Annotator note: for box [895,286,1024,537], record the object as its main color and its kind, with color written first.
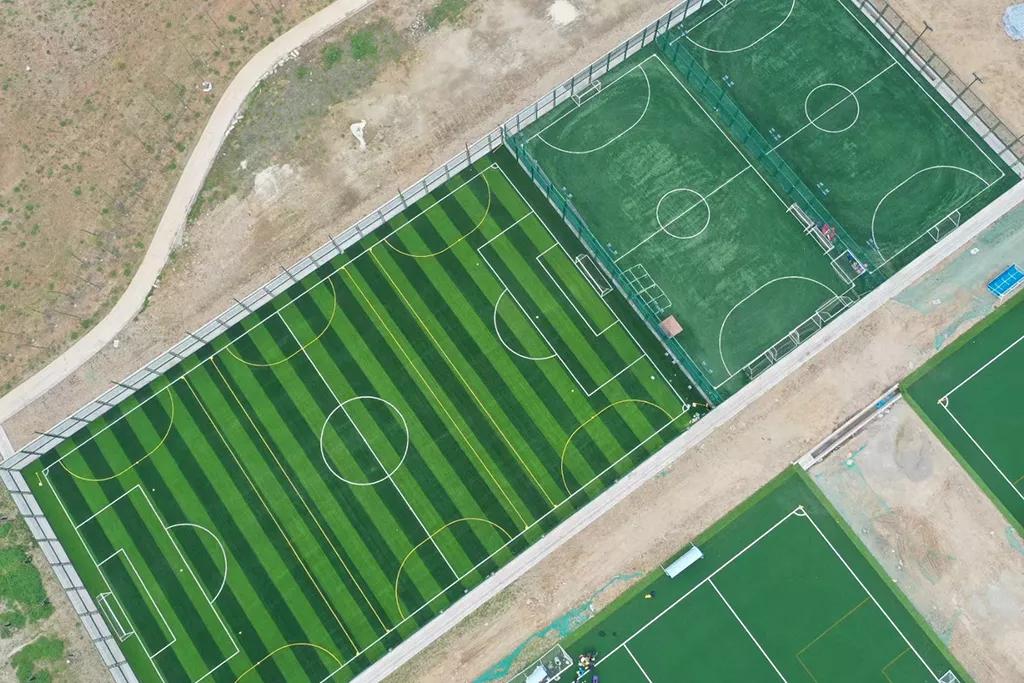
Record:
green soccer field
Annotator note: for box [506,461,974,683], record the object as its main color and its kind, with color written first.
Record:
green soccer field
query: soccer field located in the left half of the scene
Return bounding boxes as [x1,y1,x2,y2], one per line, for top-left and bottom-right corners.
[18,142,713,683]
